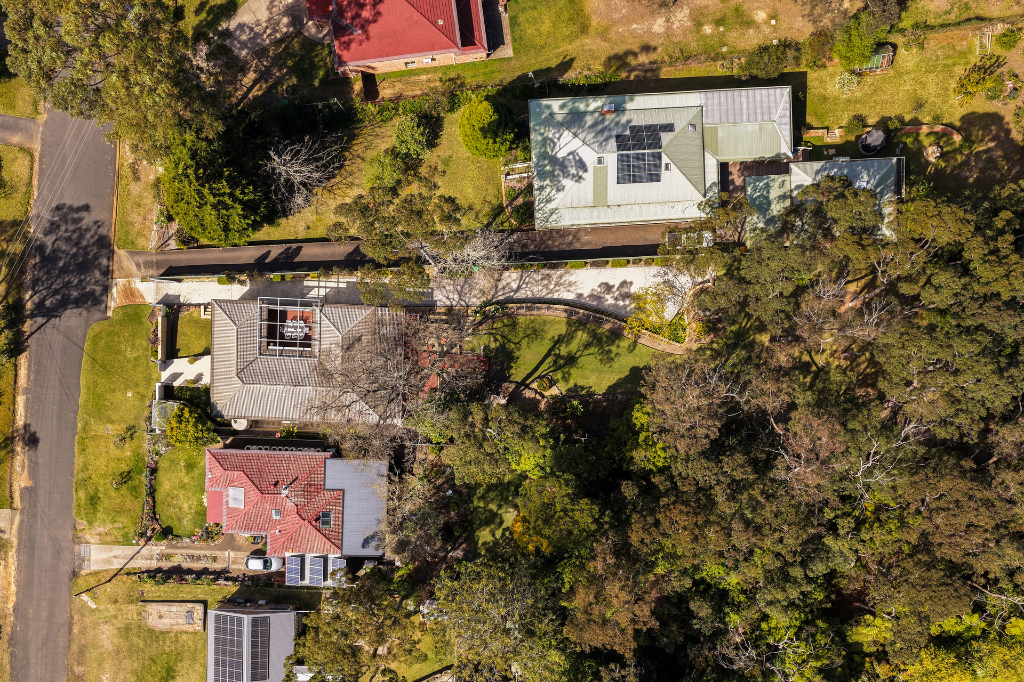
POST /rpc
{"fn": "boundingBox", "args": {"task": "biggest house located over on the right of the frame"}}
[528,85,794,234]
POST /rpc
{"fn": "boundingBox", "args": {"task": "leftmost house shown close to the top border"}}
[305,0,489,77]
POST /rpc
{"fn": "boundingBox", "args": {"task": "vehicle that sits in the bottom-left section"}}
[244,554,283,574]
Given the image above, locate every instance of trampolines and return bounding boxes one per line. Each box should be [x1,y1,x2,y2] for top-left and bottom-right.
[857,125,892,156]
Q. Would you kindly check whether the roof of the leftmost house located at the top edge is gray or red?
red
